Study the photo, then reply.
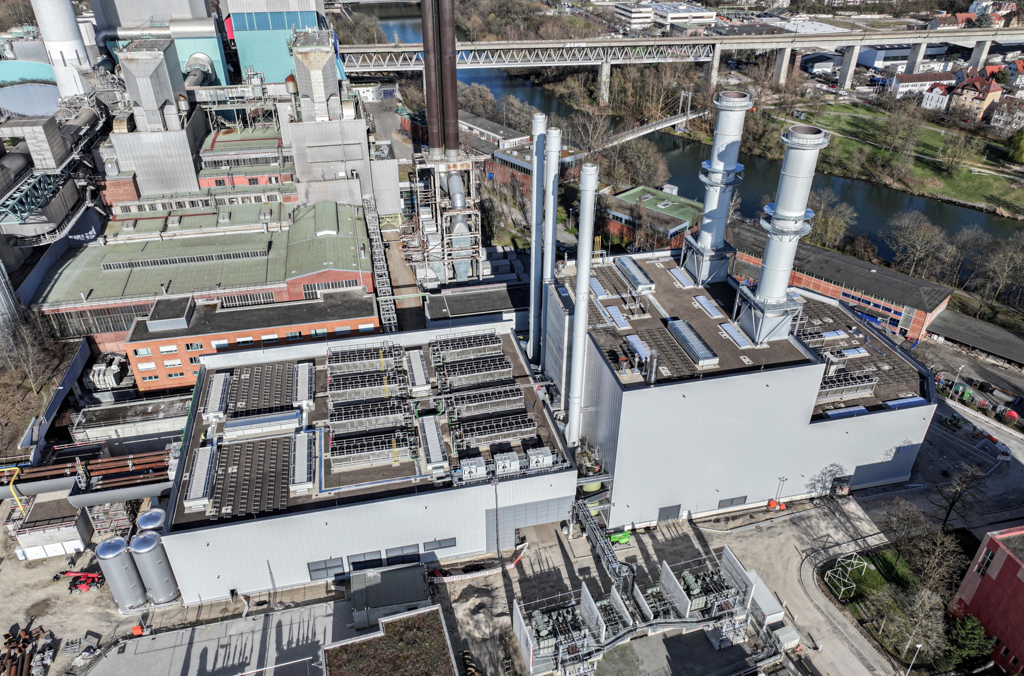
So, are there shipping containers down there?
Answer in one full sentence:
Yes, the frame does contain a shipping container.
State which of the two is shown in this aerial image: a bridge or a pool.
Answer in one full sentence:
I can see a bridge in this picture.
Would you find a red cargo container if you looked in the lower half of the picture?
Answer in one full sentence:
No, in the lower half of the picture there is no red cargo container.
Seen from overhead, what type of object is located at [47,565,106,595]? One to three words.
work vehicle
